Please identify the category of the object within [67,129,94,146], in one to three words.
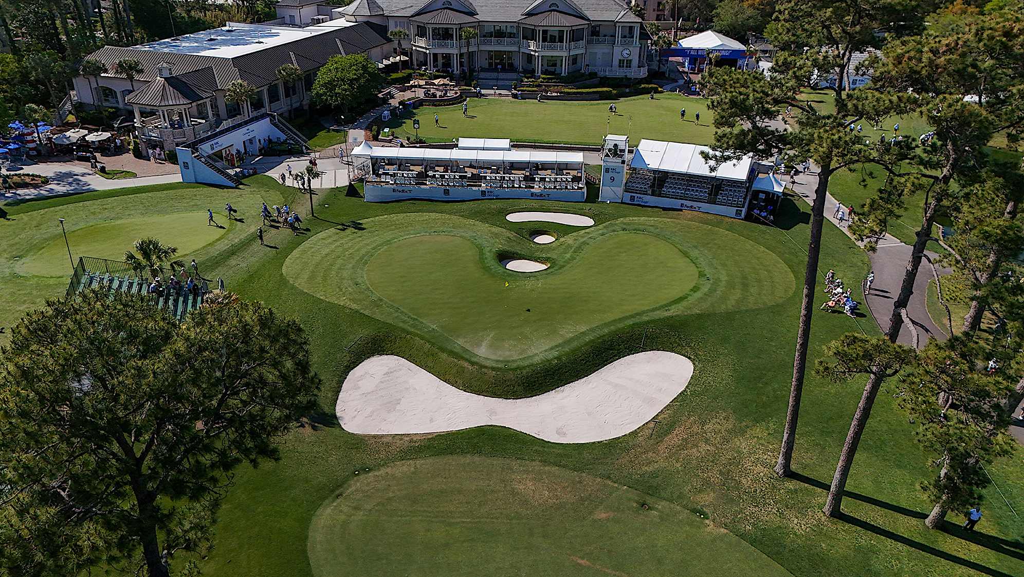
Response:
umbrella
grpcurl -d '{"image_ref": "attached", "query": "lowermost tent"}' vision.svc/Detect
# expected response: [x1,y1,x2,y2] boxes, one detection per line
[748,175,787,222]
